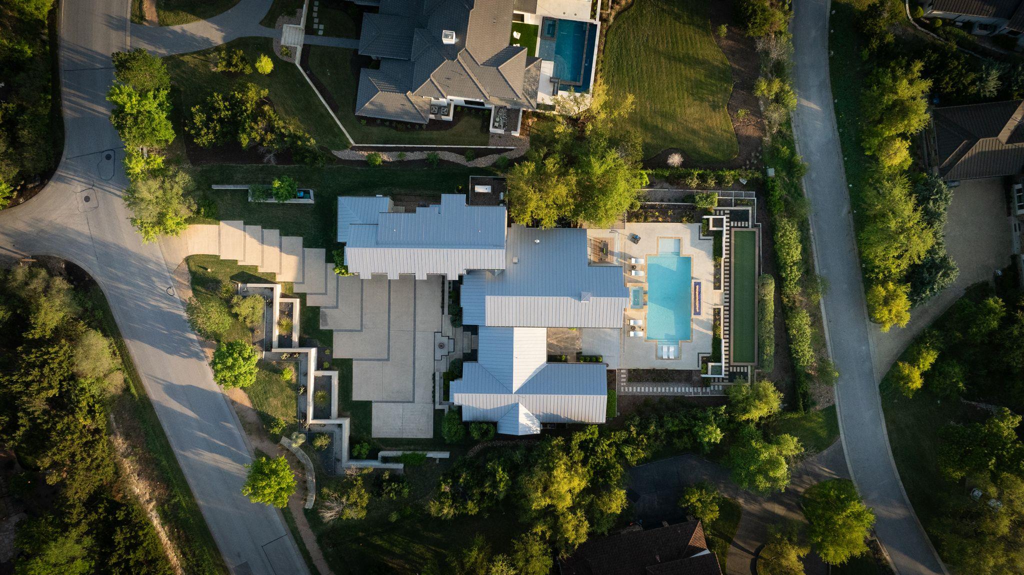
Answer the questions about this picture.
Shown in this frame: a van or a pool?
pool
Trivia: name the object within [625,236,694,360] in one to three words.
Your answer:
swimming pool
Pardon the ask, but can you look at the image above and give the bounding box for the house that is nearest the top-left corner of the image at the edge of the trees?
[355,0,543,128]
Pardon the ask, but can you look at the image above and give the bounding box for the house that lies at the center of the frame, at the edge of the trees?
[338,194,629,435]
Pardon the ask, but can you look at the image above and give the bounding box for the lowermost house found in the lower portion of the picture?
[560,504,722,575]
